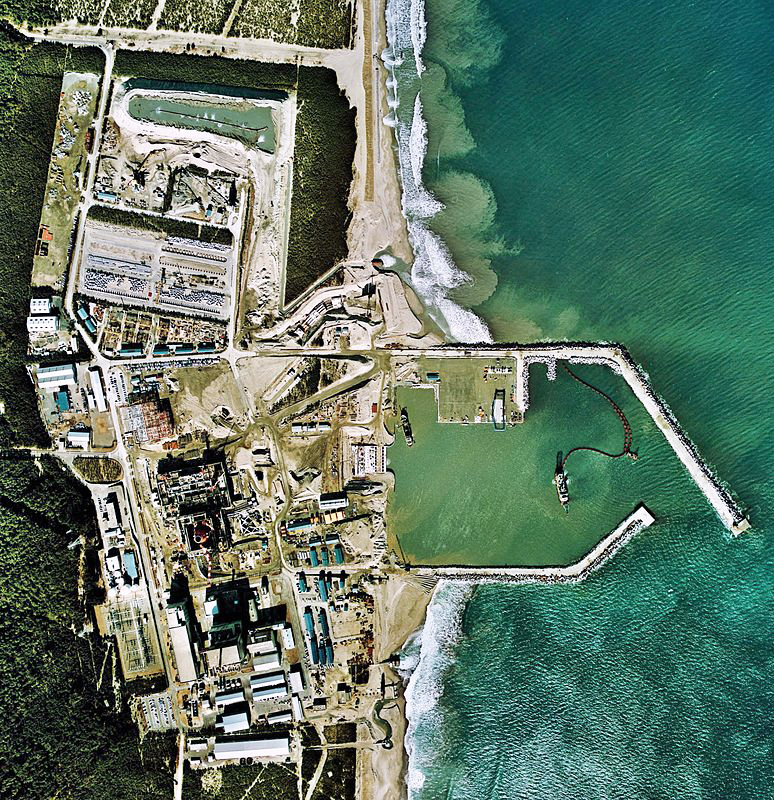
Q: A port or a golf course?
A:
port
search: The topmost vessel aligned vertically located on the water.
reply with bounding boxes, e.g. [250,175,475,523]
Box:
[399,409,412,446]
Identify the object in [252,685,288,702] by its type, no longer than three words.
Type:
shed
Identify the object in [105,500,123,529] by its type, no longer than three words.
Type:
building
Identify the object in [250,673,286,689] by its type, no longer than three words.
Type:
shed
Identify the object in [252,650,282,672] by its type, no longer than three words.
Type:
building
